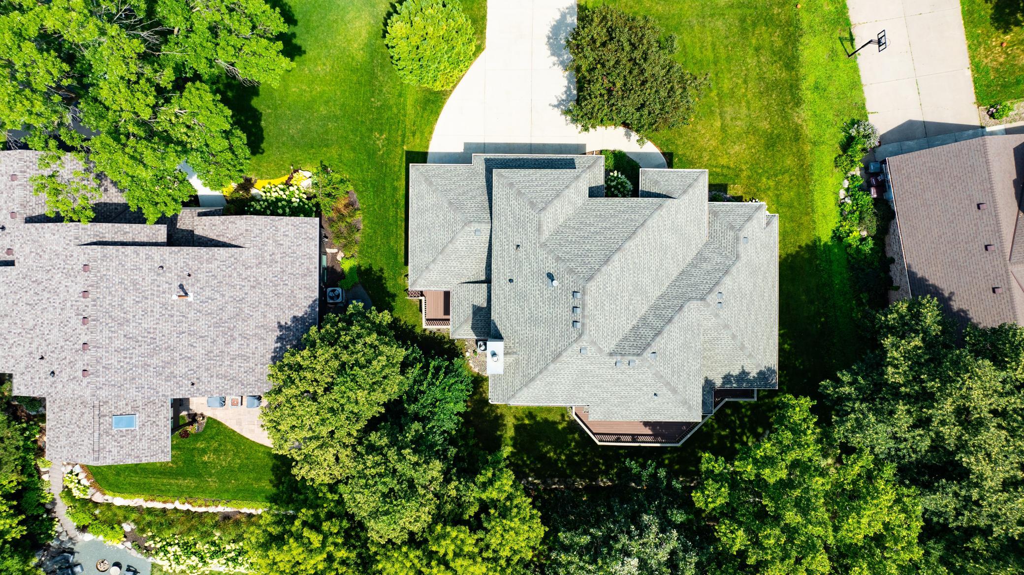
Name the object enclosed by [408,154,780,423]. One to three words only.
house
